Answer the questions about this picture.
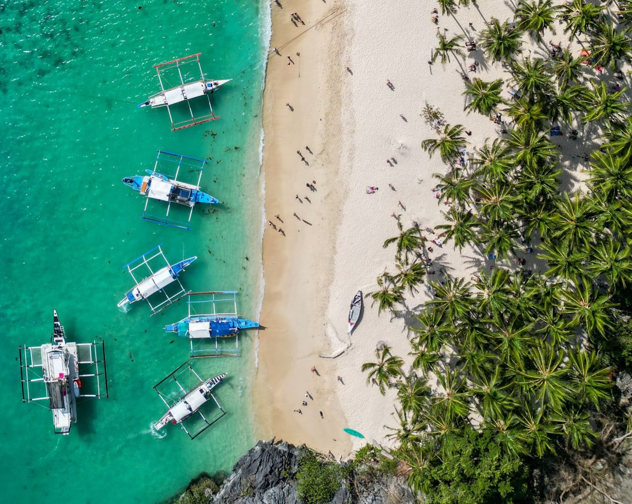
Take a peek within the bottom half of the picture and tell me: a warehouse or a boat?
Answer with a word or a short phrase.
boat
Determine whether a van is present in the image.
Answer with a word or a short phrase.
No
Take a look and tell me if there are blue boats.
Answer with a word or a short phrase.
Yes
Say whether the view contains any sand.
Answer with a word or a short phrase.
Yes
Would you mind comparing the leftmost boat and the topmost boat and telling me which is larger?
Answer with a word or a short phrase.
the leftmost boat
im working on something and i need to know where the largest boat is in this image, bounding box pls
[19,306,109,436]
